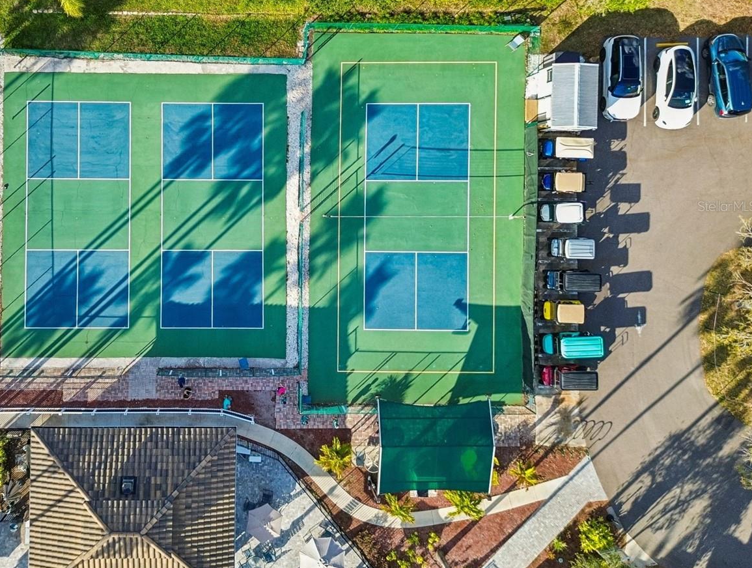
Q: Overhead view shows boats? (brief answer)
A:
No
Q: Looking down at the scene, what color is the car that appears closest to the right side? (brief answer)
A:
blue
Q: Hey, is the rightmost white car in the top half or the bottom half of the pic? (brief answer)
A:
top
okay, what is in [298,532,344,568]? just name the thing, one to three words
umbrella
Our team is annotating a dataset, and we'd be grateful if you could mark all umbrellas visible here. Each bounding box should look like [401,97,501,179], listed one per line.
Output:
[245,499,282,536]
[2,473,28,502]
[298,532,344,568]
